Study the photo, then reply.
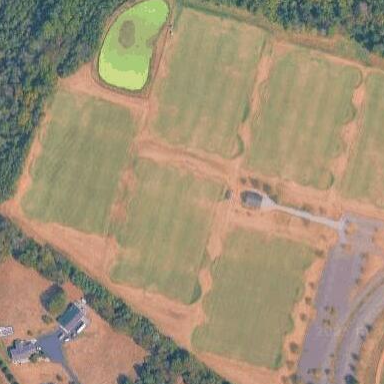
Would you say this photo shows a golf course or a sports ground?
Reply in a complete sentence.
The picture captures a sports ground.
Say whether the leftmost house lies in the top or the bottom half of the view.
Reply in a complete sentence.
The leftmost house is in the bottom half of the image.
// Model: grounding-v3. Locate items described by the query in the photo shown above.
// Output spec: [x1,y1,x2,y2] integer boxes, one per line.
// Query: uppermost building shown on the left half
[54,306,84,334]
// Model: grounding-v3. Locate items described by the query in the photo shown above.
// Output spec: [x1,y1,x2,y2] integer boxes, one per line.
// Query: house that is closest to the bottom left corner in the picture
[7,337,36,365]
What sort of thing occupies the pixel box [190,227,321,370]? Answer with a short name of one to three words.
soccer field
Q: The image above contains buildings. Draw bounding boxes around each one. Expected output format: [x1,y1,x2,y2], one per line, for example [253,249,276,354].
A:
[54,306,84,334]
[242,192,264,208]
[7,337,36,365]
